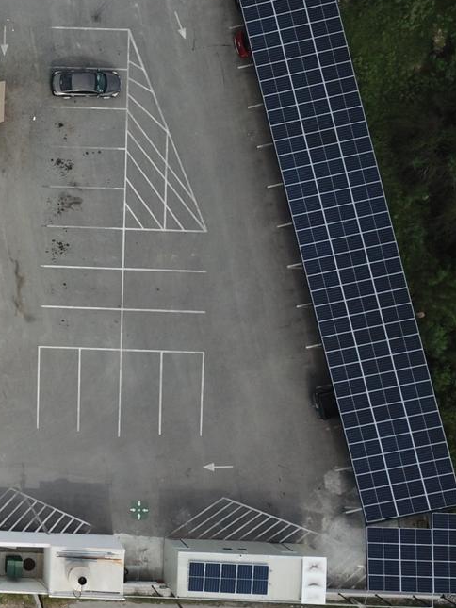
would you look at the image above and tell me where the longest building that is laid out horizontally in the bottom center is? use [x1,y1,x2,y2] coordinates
[165,540,304,606]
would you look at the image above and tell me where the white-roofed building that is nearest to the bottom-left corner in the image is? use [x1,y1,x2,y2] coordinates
[42,535,125,601]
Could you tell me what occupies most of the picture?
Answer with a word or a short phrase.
paved ground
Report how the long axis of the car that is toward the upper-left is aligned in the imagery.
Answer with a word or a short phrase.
from left to right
